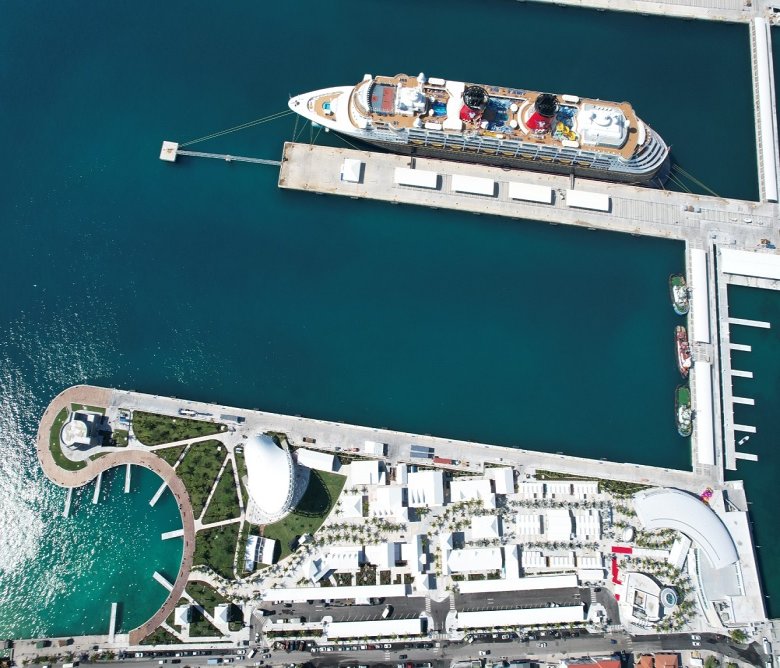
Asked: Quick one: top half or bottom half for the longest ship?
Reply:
top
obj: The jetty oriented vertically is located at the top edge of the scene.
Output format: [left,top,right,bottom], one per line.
[748,16,780,206]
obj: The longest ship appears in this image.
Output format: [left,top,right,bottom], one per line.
[287,70,677,184]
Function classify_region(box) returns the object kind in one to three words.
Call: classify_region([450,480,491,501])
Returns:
building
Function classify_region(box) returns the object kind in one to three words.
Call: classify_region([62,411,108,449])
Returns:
house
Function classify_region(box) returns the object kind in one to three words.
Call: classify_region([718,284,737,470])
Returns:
pier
